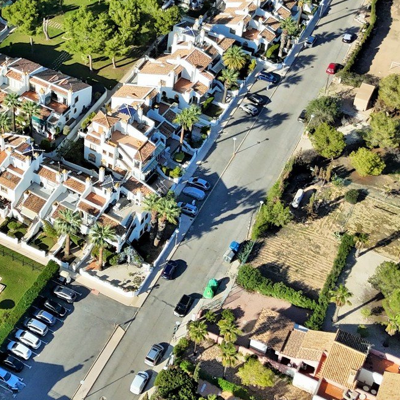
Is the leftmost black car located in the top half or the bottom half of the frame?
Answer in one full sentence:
You can find the leftmost black car in the bottom half.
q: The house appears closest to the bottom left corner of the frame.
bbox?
[0,130,142,276]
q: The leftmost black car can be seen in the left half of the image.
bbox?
[0,351,26,372]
